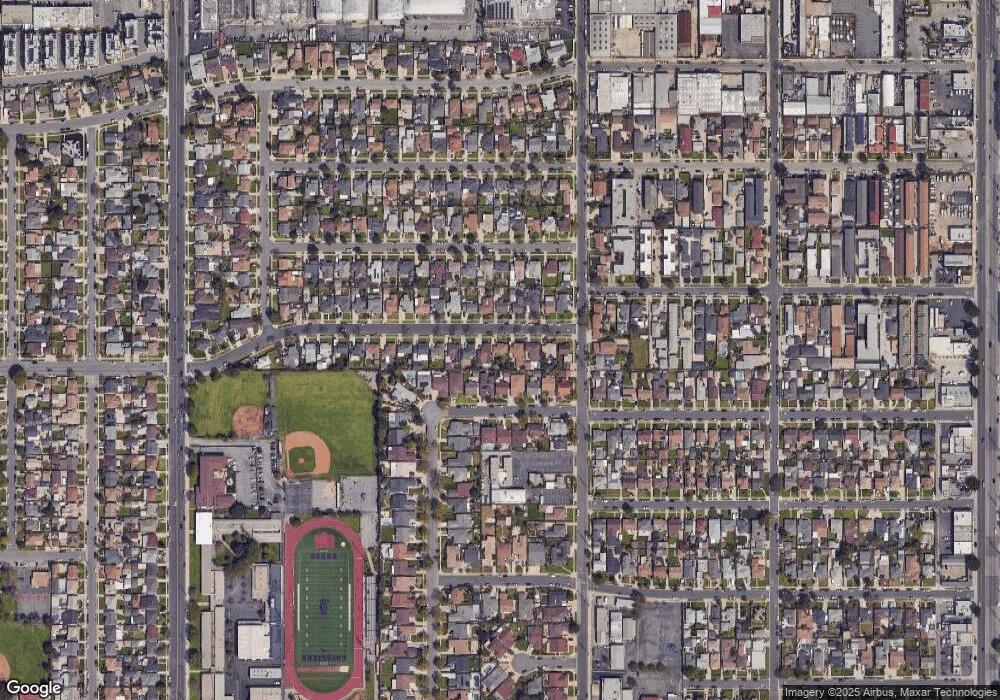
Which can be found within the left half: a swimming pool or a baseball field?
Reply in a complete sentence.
It is a baseball field that can be seen within the left half.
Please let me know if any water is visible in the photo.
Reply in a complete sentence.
No, no water is visible.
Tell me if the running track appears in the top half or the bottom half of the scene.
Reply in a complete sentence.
The running track is in the bottom half of the image.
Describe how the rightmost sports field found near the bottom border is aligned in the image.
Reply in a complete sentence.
What the image shows is the rightmost sports field found near the bottom border lying vertically.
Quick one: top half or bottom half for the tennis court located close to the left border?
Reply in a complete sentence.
Seen from above, the tennis court located close to the left border lies in the bottom half of the view.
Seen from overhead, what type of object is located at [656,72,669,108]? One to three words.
building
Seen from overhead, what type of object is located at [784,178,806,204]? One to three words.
building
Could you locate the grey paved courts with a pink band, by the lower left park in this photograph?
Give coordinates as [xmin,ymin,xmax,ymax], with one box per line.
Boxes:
[17,577,50,618]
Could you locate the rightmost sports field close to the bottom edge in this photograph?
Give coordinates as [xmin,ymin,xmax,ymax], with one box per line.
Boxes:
[295,528,354,691]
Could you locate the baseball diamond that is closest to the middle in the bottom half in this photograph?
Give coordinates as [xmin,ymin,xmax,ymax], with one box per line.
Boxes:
[277,372,377,479]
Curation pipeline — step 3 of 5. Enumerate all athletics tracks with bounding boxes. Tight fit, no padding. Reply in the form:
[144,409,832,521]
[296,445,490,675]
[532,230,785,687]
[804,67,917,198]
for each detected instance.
[285,517,364,700]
